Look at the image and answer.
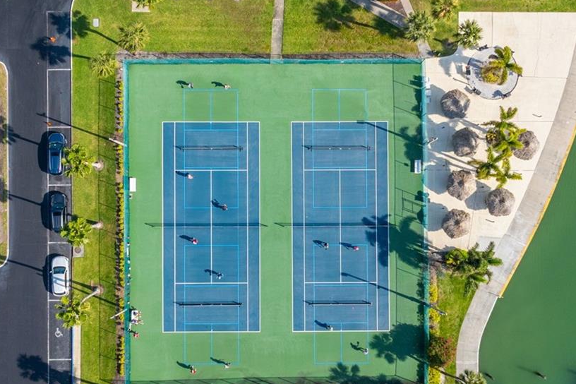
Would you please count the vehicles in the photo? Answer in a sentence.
Looking from above, you can make out 3 vehicles.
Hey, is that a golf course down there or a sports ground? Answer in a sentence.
The area seen from above is a sports ground.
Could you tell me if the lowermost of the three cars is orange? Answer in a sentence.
No, the lowermost of the three cars is actually white.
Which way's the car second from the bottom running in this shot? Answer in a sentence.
Seen from above, the car second from the bottom lies up and down.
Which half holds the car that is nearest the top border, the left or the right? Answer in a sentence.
You can find the car that is nearest the top border on the left side of the picture.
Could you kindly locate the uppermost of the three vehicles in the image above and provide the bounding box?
[45,131,66,174]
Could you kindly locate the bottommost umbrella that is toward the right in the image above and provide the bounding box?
[442,209,470,237]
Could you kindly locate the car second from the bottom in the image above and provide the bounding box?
[46,190,66,232]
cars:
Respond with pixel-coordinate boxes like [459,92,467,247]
[49,255,70,296]
[46,190,66,232]
[45,131,66,174]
